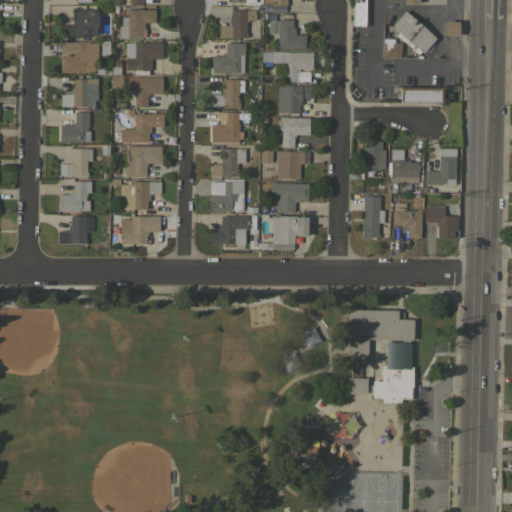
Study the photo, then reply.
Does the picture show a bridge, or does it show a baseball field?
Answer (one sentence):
There is a baseball field in the scene.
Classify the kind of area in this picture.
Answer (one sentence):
This image shows a residential area.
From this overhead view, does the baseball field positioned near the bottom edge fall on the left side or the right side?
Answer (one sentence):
The baseball field positioned near the bottom edge is on the left side of the image.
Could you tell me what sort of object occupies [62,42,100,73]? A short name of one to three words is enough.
house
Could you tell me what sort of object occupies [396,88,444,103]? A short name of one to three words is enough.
building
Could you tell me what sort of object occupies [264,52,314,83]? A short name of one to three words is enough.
house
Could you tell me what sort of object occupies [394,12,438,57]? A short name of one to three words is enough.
building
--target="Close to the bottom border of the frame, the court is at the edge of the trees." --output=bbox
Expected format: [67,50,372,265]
[330,472,404,512]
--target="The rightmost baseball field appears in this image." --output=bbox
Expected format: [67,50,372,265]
[94,443,170,512]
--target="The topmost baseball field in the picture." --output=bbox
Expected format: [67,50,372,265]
[0,309,60,376]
